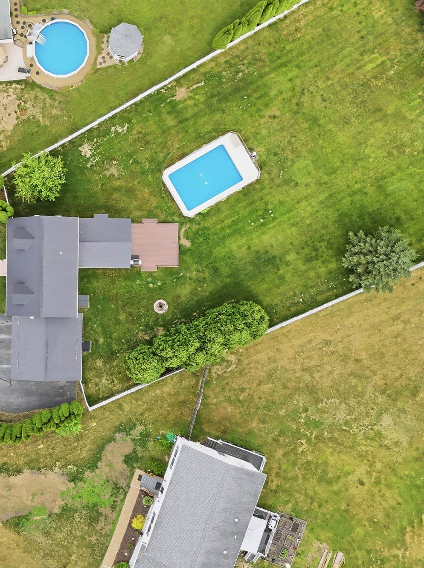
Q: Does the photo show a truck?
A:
No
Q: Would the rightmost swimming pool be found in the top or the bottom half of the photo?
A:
top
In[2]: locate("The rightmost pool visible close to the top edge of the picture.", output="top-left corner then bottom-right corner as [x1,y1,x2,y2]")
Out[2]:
[32,21,90,79]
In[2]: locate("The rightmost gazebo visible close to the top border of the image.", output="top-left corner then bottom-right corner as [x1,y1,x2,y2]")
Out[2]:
[108,23,143,61]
